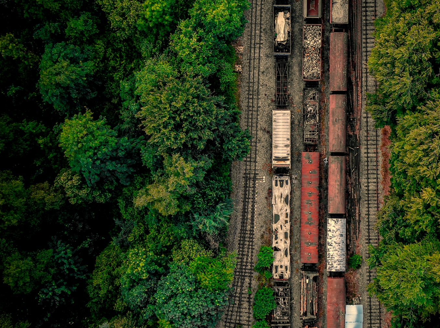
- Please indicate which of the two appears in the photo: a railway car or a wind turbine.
railway car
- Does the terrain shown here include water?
No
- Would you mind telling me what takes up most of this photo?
trees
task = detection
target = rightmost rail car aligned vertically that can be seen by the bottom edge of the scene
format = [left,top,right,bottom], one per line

[300,267,317,322]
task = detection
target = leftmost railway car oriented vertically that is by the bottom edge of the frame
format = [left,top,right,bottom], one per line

[272,282,289,322]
